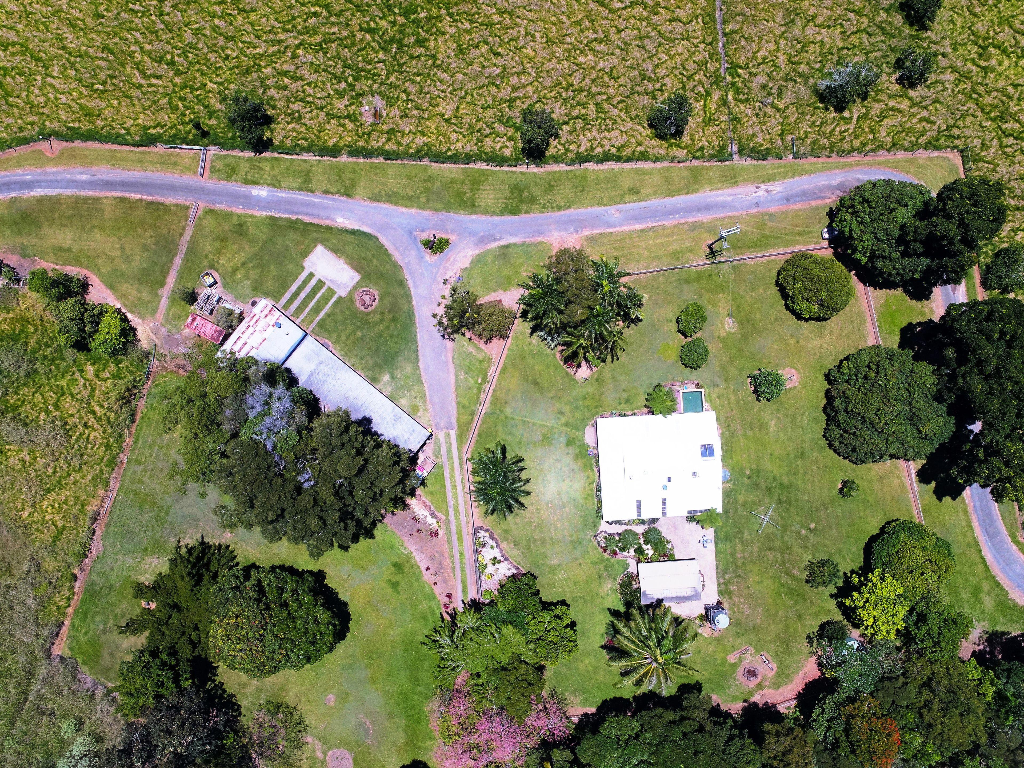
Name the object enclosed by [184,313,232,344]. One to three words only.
shed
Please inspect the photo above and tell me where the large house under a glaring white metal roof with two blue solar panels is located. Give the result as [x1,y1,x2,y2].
[595,411,723,520]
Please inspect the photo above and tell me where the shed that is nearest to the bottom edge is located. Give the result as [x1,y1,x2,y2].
[635,555,701,605]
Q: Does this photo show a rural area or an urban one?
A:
rural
